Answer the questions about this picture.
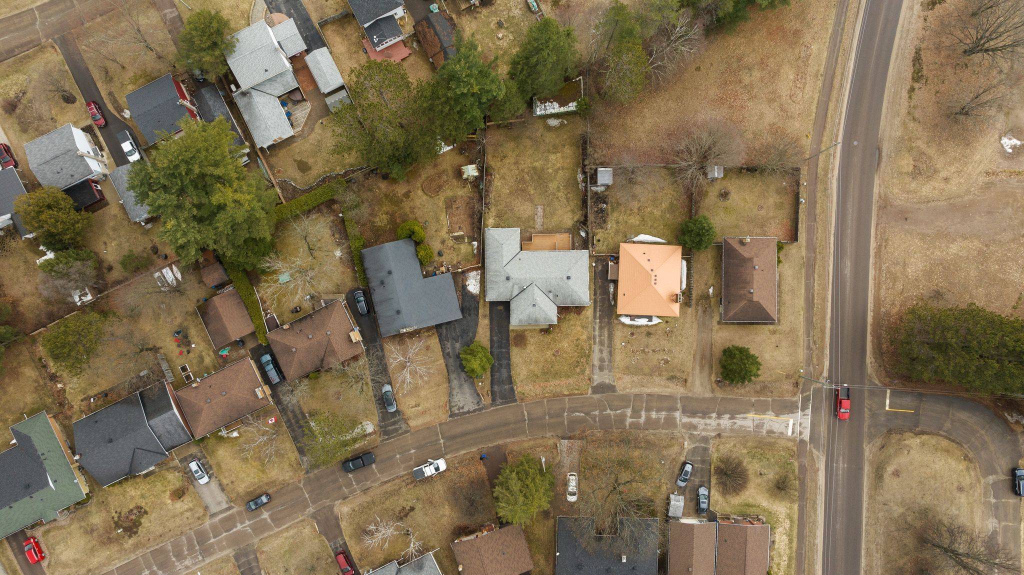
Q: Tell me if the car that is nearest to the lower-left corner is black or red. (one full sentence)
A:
The car that is nearest to the lower-left corner is red.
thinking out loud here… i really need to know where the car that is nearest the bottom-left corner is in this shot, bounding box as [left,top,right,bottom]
[25,536,45,564]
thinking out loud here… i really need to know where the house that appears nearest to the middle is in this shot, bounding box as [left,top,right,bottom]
[484,228,590,325]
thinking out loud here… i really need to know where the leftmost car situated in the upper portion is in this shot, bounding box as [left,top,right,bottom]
[0,142,20,168]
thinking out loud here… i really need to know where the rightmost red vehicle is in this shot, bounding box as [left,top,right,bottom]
[834,385,852,421]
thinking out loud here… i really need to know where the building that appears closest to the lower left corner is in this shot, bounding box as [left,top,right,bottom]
[0,410,93,540]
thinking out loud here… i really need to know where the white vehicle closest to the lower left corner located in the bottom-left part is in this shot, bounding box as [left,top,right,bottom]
[188,457,211,486]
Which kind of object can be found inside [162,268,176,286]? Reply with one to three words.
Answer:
boat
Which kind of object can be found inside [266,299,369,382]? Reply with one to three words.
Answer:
house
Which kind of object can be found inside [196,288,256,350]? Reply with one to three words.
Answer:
building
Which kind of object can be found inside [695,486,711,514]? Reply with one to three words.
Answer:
car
